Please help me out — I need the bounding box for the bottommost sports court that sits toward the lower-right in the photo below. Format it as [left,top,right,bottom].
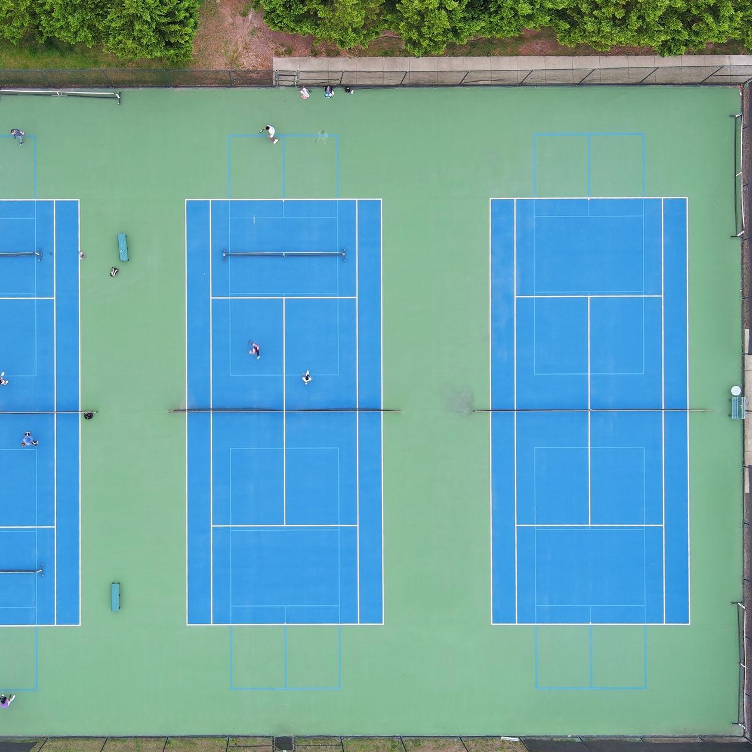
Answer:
[535,448,646,688]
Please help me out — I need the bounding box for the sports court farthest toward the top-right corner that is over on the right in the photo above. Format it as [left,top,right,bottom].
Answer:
[534,134,645,375]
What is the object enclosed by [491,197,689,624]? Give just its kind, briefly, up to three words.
tennis court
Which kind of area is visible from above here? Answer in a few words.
sports ground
